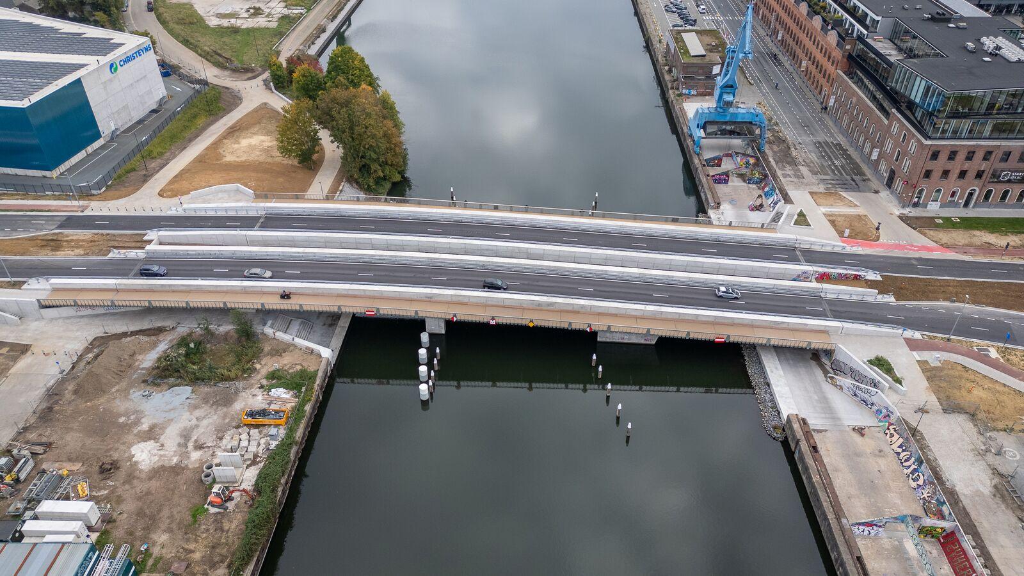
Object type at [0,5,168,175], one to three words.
building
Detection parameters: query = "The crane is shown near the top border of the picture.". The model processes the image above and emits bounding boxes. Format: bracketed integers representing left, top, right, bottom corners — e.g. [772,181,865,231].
[688,0,771,155]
